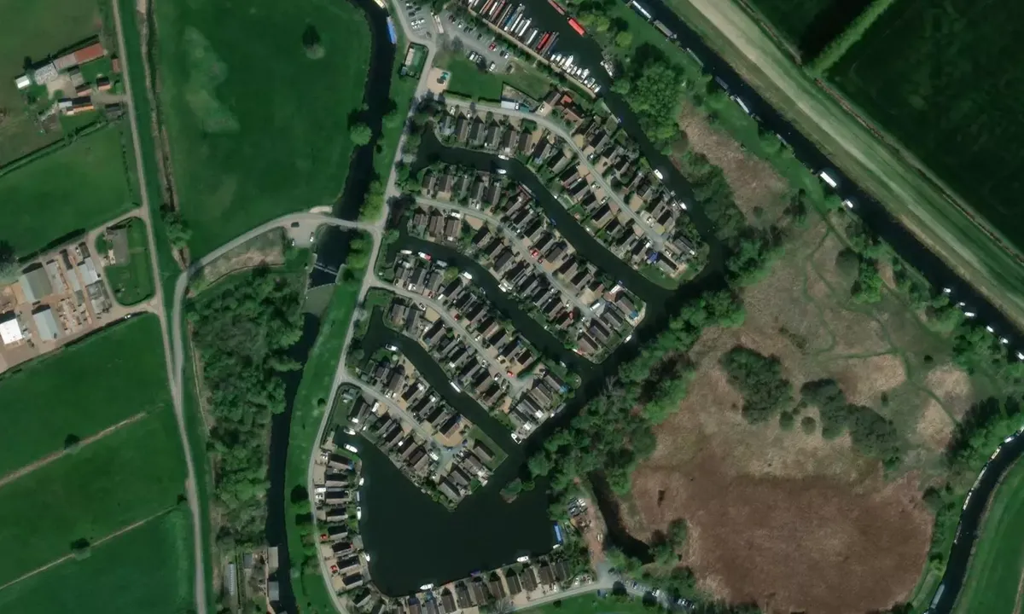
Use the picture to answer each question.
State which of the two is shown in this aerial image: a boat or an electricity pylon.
boat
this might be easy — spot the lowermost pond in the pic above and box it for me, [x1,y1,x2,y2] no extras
[588,471,654,565]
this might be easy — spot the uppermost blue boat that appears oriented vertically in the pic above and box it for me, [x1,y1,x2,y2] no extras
[385,17,397,43]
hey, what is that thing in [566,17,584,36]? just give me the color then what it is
red boat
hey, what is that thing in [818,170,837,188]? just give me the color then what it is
white boat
